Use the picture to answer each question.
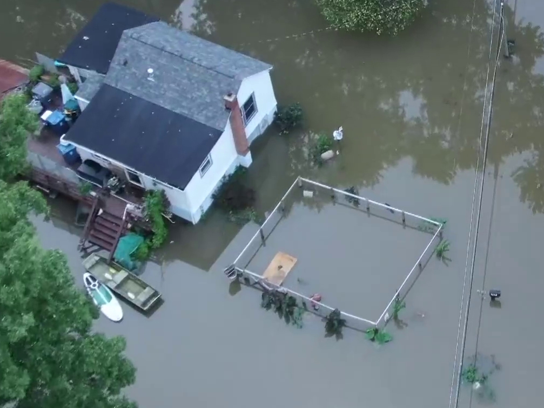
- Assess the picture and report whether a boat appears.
Yes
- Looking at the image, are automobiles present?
No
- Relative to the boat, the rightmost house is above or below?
above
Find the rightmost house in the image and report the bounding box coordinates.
[62,3,278,223]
